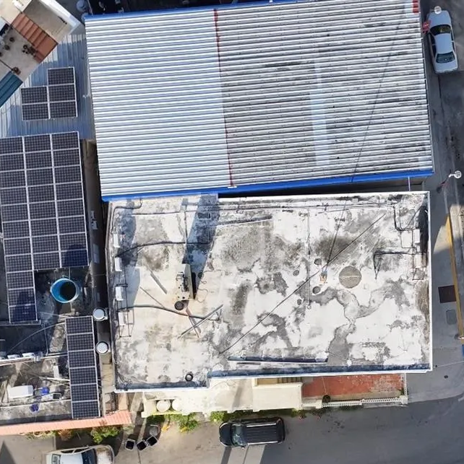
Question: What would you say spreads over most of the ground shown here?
buildings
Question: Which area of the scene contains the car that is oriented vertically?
top right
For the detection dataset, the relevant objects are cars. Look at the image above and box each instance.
[218,419,286,453]
[44,446,114,464]
[428,6,458,73]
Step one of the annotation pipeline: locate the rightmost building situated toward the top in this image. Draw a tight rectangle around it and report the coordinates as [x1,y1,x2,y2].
[84,0,435,201]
